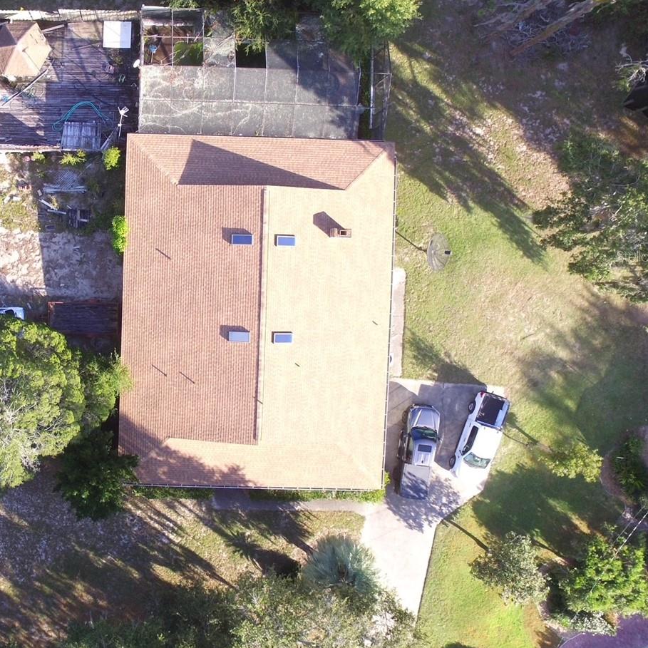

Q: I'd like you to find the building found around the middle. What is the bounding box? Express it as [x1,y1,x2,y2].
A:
[119,134,397,494]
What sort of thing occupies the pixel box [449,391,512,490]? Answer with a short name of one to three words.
truck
